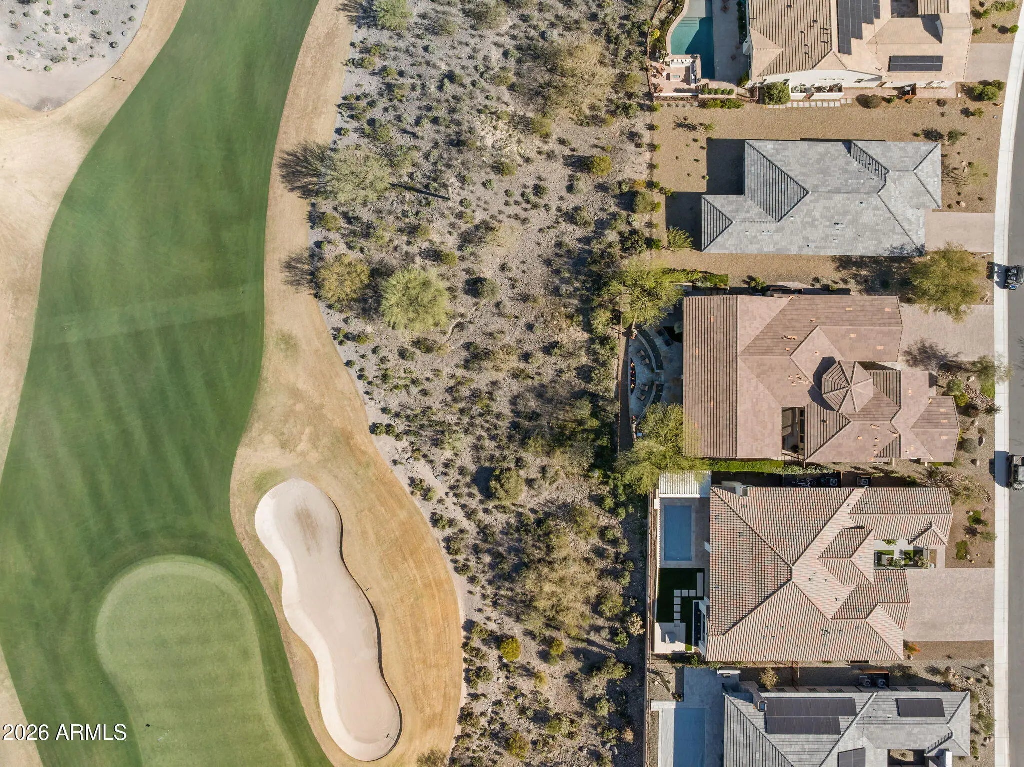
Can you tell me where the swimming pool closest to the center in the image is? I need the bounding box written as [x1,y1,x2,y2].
[665,506,692,561]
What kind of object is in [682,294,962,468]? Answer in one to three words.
house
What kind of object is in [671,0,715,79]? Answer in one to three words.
swimming pool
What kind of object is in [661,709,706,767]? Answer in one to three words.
swimming pool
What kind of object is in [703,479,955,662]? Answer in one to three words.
house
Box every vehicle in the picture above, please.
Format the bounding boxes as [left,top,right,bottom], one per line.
[1006,266,1024,292]
[1009,456,1024,493]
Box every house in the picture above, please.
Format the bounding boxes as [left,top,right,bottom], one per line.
[741,0,979,90]
[724,679,971,767]
[703,479,955,662]
[699,138,944,257]
[682,294,962,468]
